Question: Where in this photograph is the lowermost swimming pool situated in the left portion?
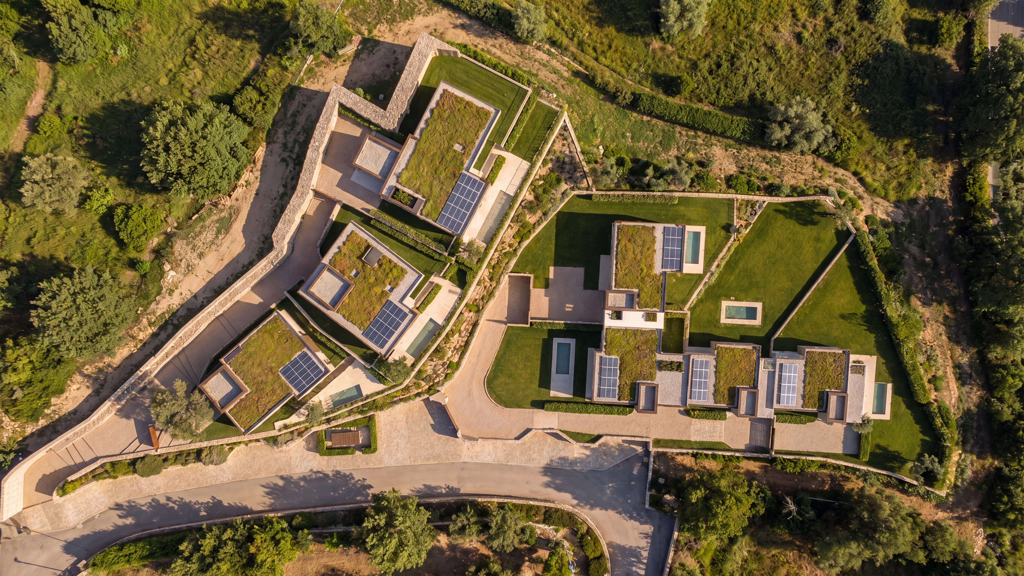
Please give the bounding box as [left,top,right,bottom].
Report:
[327,382,365,408]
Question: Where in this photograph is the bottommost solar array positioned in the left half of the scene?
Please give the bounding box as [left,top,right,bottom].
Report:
[280,351,323,393]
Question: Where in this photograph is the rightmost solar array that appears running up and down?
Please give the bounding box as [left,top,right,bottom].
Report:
[780,364,798,405]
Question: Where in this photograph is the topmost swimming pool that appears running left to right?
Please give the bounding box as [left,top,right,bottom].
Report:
[723,304,759,321]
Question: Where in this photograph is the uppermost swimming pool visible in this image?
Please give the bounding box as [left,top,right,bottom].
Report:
[474,188,515,246]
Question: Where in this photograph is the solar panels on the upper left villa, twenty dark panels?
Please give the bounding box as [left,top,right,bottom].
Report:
[437,172,484,233]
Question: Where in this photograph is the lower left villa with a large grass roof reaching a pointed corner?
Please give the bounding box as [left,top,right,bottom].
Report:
[199,309,338,434]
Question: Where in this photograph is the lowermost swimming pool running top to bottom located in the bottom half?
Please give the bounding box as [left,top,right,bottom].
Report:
[871,381,889,416]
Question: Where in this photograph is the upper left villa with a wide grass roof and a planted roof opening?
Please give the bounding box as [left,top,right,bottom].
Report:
[353,80,501,240]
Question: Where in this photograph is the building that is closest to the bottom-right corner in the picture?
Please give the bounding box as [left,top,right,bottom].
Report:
[765,344,867,423]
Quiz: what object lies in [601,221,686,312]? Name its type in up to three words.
house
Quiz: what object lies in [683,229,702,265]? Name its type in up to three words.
swimming pool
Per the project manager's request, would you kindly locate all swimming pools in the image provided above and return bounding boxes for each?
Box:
[474,188,515,246]
[403,315,444,360]
[554,341,572,376]
[871,381,889,416]
[327,382,365,408]
[683,229,702,265]
[723,304,759,321]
